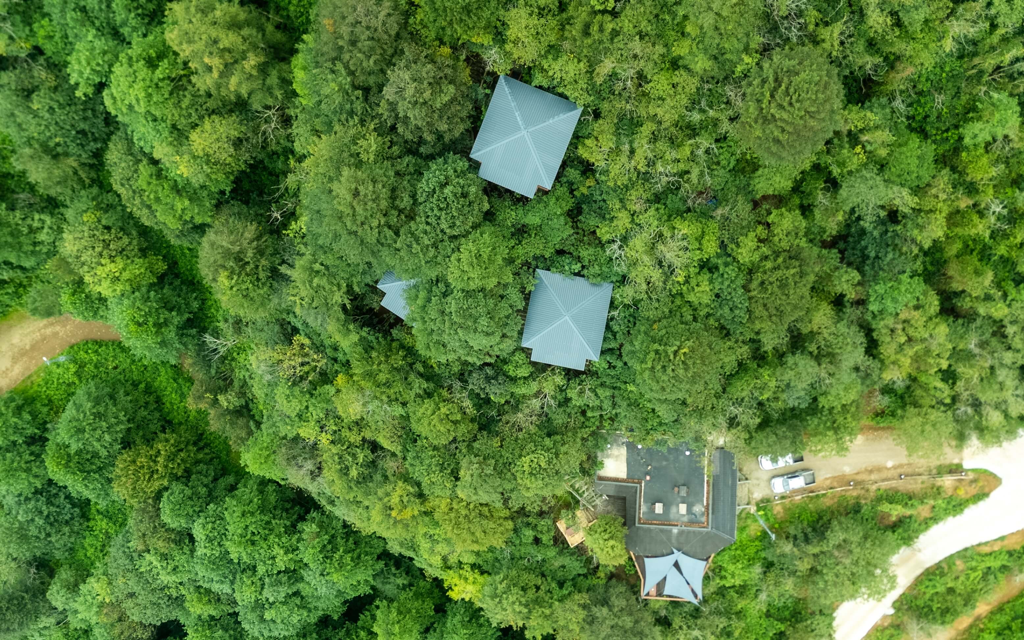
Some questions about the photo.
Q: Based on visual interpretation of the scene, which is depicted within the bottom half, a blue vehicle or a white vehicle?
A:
white vehicle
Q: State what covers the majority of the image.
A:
trees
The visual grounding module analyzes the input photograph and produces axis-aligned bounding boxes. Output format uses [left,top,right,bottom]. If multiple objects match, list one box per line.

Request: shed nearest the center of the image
[521,269,614,371]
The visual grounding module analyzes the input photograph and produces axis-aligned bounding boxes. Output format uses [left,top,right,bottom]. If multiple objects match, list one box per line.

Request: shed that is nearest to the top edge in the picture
[469,76,584,205]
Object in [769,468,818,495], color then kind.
white truck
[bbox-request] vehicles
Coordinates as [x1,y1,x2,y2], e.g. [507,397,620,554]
[756,454,805,472]
[769,468,818,495]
